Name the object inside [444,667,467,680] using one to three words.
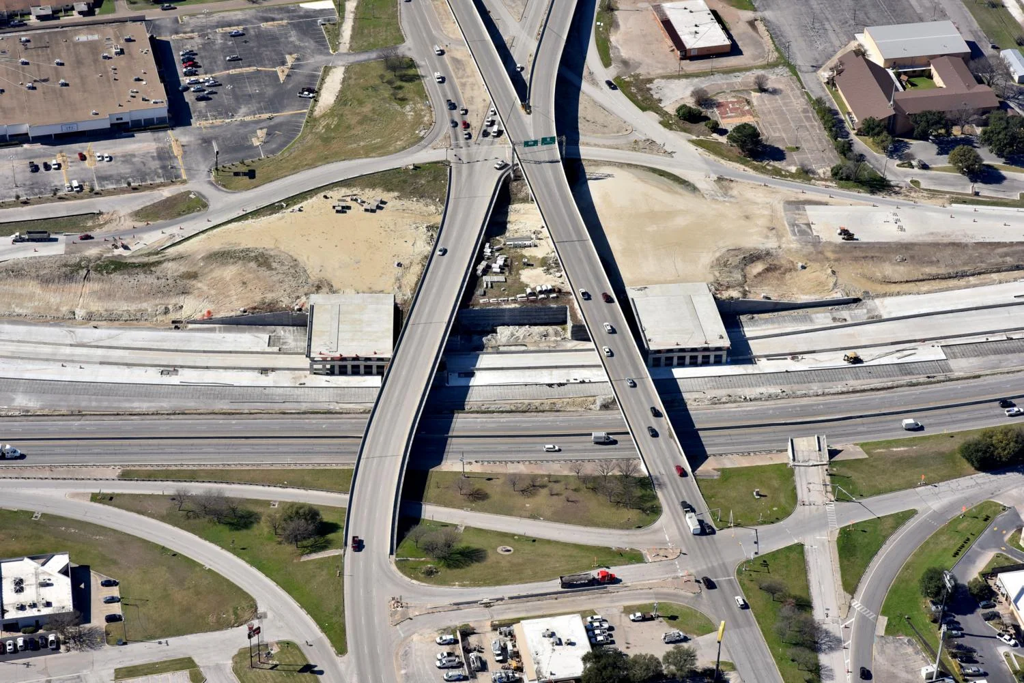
vehicle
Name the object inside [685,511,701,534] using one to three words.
vehicle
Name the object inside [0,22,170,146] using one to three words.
building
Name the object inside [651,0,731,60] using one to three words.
building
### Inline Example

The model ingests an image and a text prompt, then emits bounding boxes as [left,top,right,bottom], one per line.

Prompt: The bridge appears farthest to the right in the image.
[789,433,830,467]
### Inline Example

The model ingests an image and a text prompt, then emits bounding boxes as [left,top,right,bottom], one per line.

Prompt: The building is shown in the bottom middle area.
[513,614,600,683]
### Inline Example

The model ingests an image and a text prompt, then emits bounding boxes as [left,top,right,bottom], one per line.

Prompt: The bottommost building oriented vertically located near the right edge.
[991,564,1024,632]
